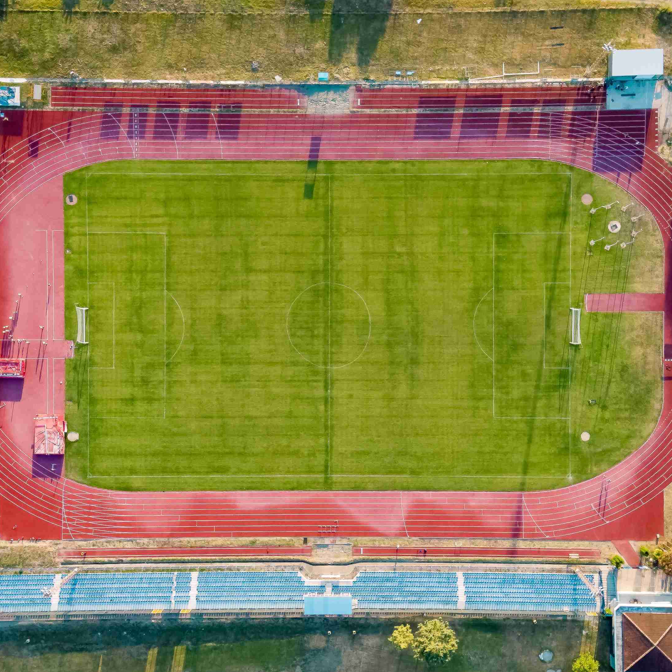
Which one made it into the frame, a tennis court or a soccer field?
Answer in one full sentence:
Looking from above, you can make out a soccer field.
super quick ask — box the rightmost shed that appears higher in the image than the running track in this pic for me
[606,49,664,80]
